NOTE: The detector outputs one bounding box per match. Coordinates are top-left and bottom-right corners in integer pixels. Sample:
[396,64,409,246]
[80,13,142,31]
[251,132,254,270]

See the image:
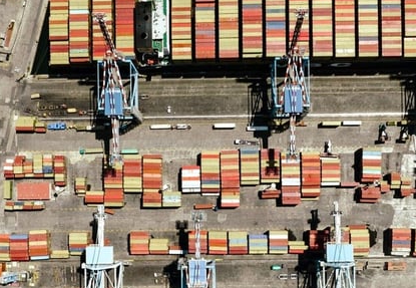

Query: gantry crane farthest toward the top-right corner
[268,9,314,161]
